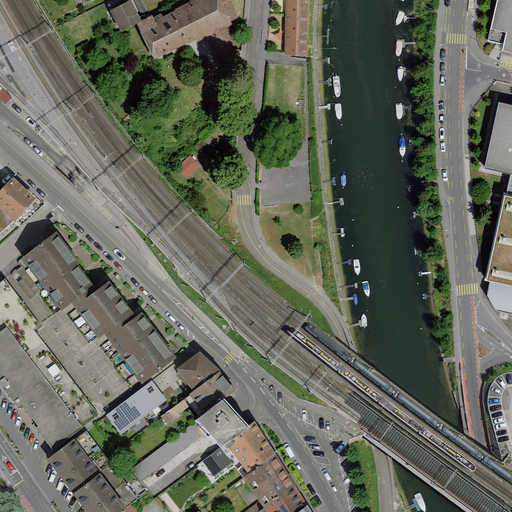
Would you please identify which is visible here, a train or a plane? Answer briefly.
train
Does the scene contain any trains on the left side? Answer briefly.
No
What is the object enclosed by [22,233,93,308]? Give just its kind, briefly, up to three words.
building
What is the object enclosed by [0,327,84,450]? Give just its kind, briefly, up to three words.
building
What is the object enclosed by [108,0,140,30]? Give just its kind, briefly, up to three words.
house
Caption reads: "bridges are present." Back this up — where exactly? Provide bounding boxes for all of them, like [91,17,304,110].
[334,337,512,512]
